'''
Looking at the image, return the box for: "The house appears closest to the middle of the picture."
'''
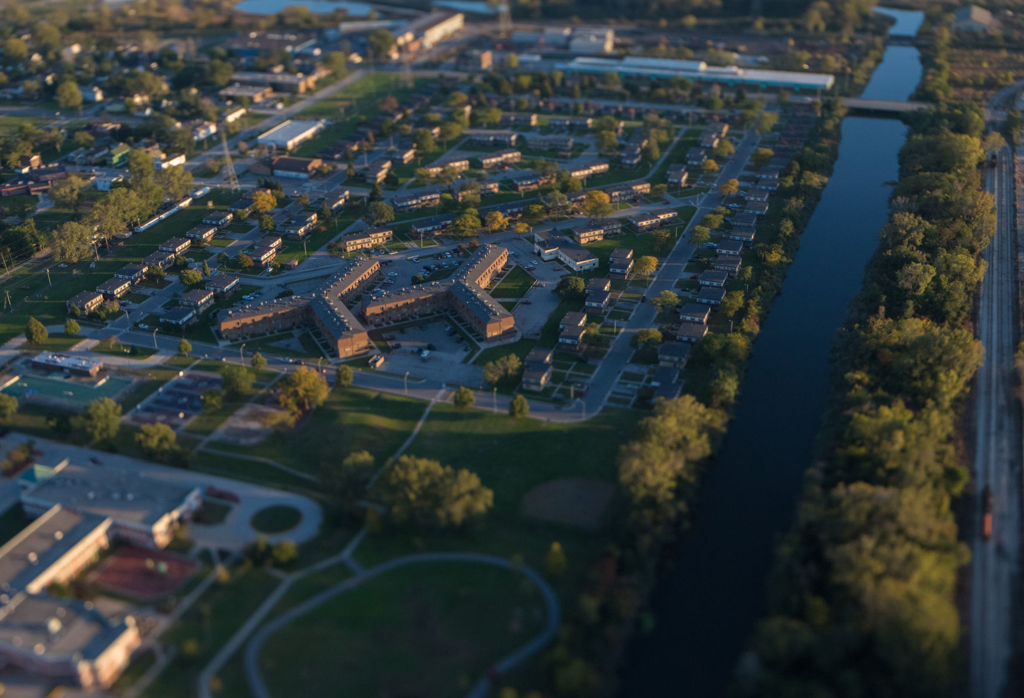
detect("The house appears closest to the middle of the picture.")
[520,345,555,393]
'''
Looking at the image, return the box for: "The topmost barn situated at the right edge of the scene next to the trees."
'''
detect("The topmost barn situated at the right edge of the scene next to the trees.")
[952,6,1000,38]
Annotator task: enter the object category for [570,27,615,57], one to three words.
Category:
shed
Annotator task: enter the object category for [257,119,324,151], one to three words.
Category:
building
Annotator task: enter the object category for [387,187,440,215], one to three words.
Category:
house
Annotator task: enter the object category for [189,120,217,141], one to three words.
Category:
house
